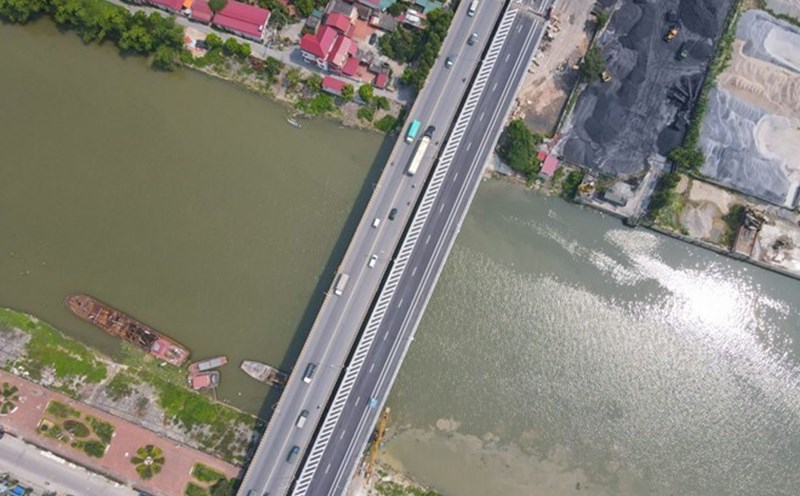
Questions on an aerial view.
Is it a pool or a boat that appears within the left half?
boat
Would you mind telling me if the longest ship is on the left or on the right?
left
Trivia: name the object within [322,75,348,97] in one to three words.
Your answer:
house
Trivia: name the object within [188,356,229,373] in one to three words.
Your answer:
boat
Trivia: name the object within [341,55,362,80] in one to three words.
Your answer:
house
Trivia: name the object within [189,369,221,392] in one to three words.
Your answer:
boat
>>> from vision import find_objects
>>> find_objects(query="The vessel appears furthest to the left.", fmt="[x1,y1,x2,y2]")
[65,300,191,367]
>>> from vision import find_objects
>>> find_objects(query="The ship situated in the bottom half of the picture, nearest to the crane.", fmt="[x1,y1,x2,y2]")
[241,361,290,384]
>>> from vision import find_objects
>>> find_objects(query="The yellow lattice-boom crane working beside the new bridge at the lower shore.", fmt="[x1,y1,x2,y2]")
[362,407,391,480]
